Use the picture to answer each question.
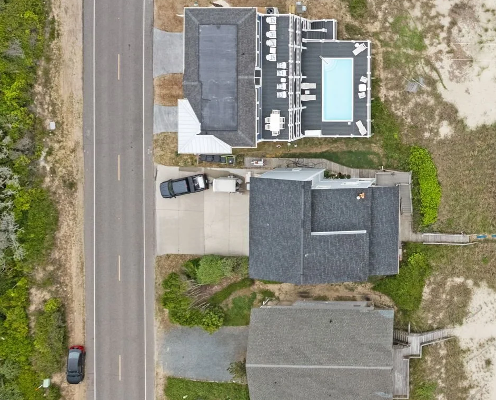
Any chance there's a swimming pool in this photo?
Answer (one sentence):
Yes, a swimming pool is visible in the scene.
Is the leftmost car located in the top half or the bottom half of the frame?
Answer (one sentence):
The leftmost car is in the bottom half of the image.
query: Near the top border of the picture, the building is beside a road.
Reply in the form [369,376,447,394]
[177,6,312,154]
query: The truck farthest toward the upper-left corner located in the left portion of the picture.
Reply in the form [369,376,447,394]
[160,173,213,199]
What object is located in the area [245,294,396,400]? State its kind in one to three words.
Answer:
house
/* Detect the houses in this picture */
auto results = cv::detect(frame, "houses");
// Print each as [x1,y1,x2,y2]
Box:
[245,294,396,400]
[250,169,400,284]
[177,6,312,154]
